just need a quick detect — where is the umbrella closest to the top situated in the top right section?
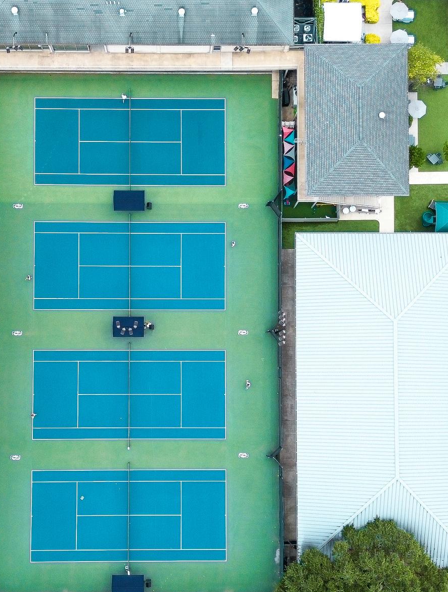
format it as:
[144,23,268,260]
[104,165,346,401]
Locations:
[390,2,408,21]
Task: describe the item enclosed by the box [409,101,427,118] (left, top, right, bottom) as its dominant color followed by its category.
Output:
white umbrella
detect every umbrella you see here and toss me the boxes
[390,2,408,21]
[409,101,427,118]
[390,30,408,43]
